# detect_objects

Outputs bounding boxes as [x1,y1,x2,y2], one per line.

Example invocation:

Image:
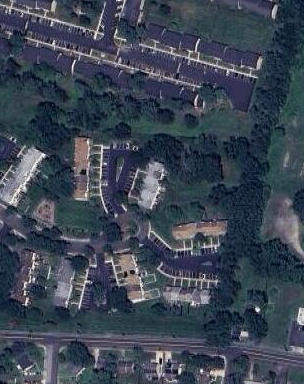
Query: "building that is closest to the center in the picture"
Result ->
[140,161,167,209]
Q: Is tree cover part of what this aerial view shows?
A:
Yes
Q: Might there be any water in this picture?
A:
No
